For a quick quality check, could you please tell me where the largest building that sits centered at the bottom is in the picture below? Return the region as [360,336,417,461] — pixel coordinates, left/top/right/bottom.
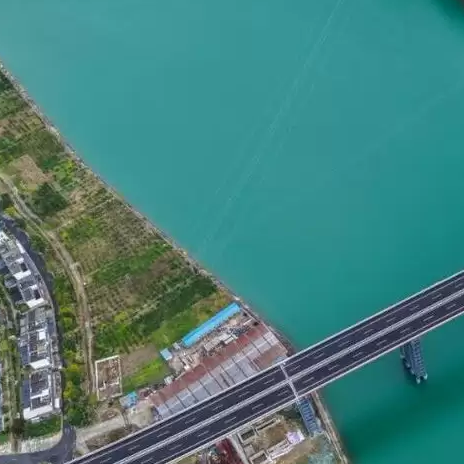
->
[148,321,293,417]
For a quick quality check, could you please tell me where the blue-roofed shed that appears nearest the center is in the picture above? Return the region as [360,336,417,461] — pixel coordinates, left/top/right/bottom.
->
[182,302,243,349]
